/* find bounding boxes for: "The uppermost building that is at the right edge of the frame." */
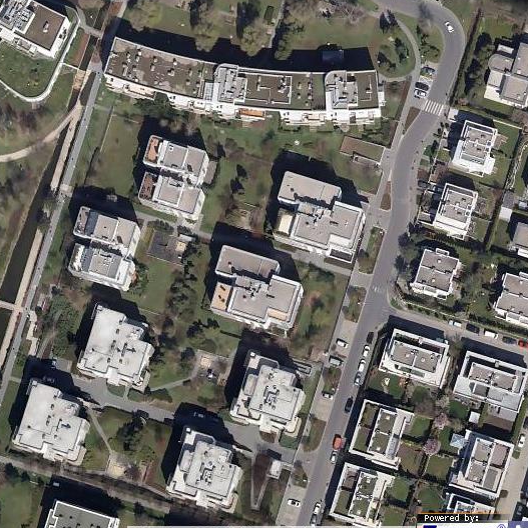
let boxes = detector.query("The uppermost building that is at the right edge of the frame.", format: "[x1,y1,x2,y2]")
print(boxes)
[483,43,528,110]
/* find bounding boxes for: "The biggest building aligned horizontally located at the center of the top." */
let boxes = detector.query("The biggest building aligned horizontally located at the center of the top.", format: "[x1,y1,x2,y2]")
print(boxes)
[105,38,385,127]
